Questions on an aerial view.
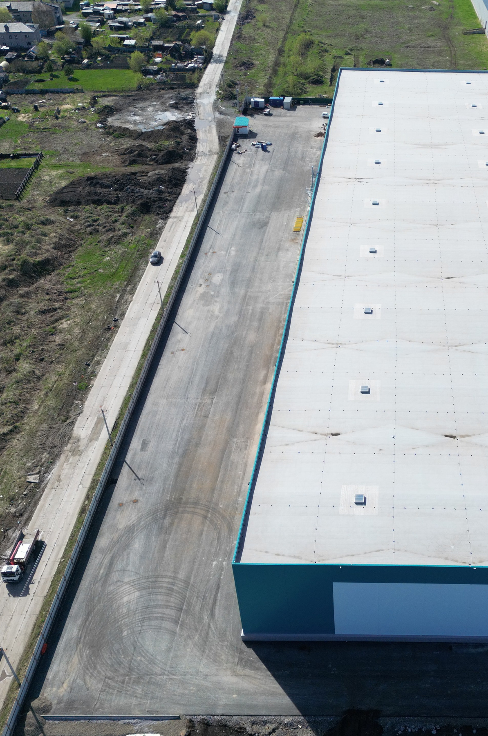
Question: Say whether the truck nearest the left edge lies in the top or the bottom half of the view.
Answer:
bottom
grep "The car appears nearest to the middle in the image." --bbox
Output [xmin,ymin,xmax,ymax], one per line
[150,245,165,261]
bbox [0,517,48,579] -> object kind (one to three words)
truck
